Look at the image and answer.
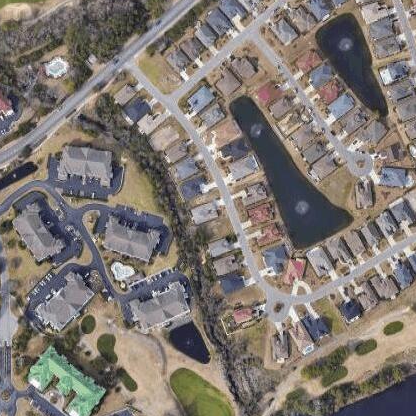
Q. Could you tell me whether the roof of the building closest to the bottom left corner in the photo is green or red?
green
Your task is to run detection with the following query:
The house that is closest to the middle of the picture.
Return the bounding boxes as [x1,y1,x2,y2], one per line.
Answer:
[191,201,220,226]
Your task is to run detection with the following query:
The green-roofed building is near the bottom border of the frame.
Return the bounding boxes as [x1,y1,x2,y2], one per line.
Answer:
[29,347,104,416]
